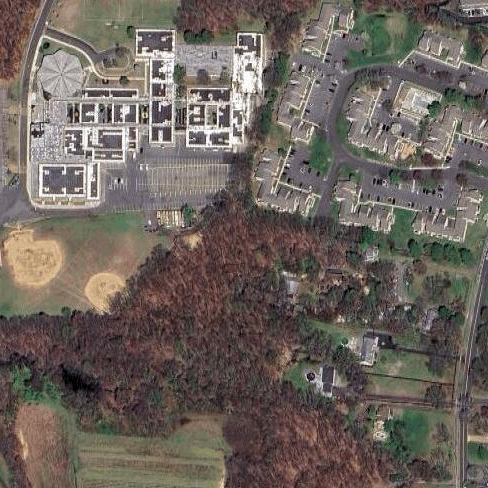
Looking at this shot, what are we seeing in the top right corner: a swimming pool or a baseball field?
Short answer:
swimming pool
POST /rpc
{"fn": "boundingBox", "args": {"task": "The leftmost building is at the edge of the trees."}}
[31,29,264,200]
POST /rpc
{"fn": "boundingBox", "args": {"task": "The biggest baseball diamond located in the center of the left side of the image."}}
[1,227,63,286]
